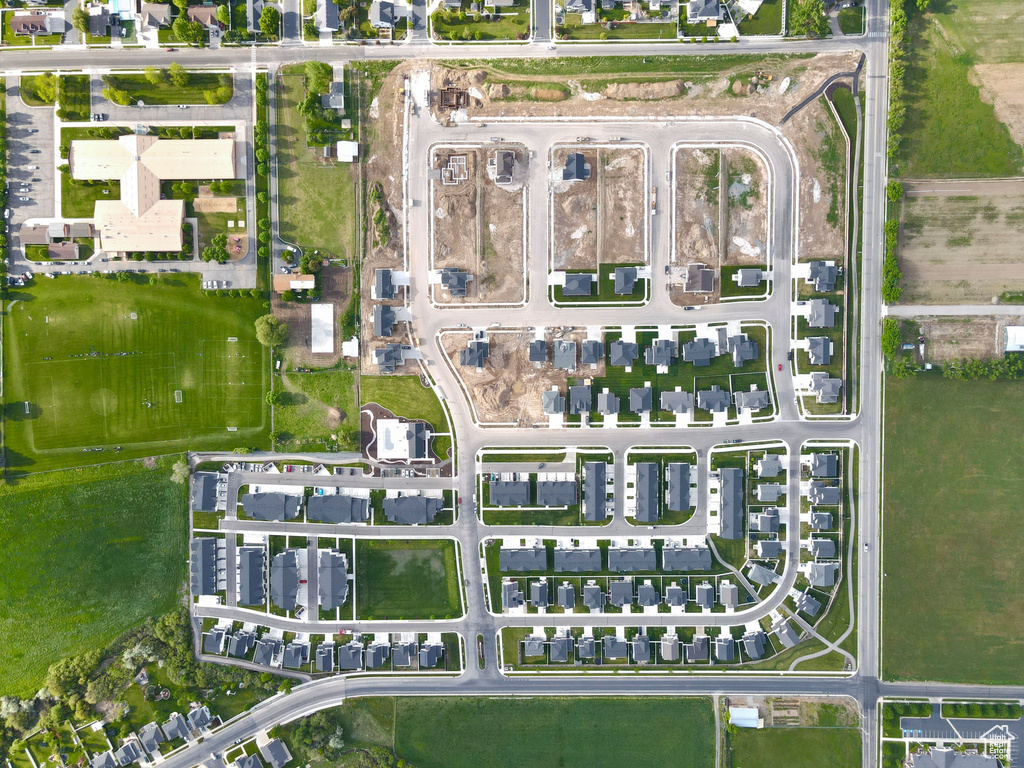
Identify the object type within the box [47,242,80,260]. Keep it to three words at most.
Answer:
building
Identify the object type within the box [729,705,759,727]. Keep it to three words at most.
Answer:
barn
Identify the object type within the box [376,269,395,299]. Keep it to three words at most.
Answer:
house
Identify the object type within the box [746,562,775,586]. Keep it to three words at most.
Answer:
house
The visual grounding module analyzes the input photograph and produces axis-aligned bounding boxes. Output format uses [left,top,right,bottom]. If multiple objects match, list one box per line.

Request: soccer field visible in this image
[2,273,272,479]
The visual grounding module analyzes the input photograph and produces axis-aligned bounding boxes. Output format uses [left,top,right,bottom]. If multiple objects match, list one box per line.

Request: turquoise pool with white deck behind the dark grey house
[108,0,131,20]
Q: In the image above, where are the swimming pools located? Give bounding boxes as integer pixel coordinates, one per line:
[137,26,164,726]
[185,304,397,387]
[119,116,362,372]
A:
[108,0,131,20]
[385,428,394,451]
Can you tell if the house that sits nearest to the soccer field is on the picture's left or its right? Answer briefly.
left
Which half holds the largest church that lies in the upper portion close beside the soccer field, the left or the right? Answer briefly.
left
